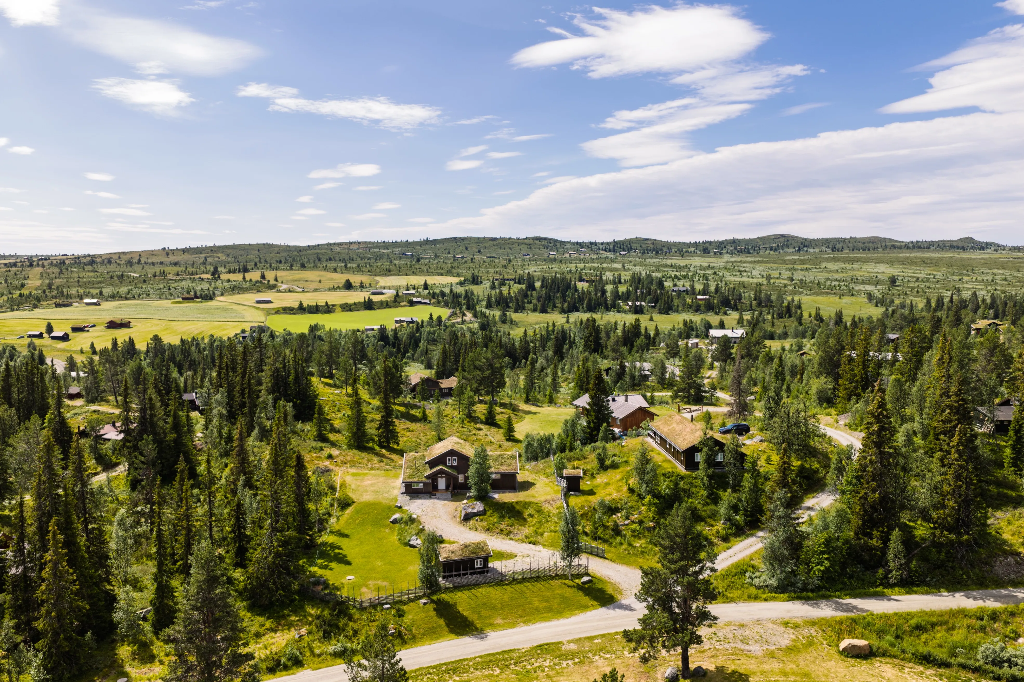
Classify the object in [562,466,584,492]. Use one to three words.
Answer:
shed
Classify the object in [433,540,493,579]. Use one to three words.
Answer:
building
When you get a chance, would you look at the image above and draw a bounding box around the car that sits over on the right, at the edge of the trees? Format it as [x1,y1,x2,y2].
[718,423,750,435]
